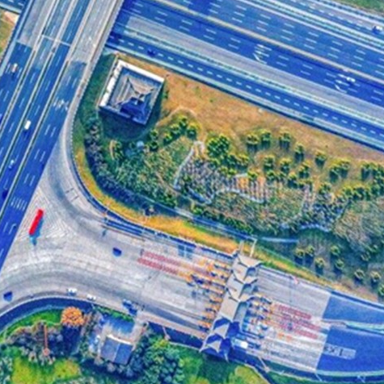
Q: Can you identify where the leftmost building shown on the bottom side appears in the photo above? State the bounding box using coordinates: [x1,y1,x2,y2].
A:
[101,334,134,367]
